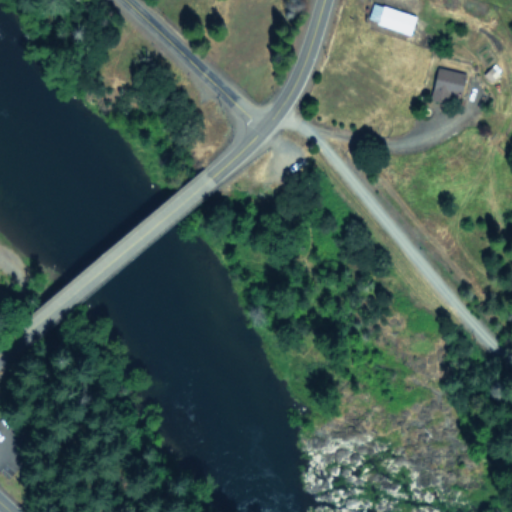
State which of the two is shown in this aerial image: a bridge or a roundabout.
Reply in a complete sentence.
Looking from above, you can make out a bridge.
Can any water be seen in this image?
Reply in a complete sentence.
Yes, water can be seen from above here.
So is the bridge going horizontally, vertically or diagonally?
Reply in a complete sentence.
What the image shows is the bridge lying diagonally.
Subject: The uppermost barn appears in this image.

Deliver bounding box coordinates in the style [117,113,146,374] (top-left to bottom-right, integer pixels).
[370,2,418,36]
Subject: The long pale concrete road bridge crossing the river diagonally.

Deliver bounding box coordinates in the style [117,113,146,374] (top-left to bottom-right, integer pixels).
[28,171,218,336]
